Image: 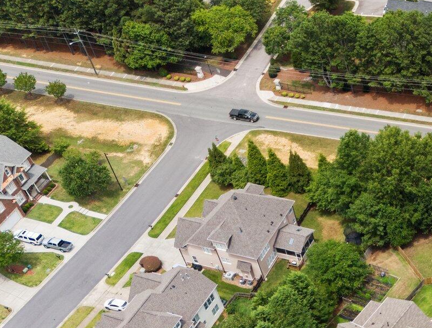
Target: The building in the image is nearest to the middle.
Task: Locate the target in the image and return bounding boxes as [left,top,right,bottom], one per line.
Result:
[167,178,316,282]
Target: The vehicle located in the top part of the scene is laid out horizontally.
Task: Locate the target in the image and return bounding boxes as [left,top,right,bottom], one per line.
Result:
[228,111,257,124]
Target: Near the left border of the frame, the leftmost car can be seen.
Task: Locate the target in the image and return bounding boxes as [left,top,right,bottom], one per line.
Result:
[11,229,43,245]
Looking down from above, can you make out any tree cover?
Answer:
Yes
